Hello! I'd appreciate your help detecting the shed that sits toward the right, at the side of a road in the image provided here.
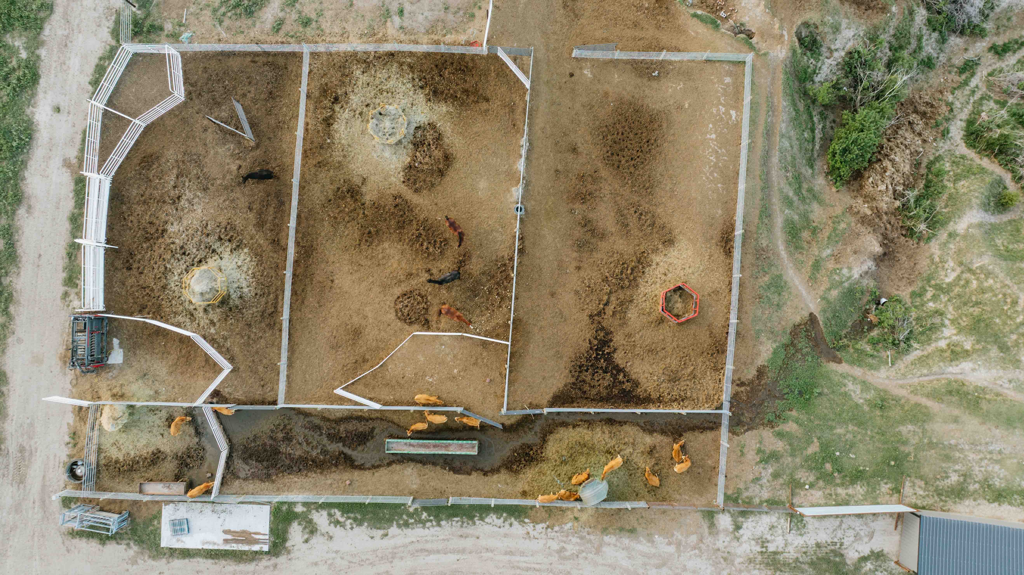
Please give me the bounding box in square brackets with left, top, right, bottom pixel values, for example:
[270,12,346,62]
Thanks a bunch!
[898,510,1024,575]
